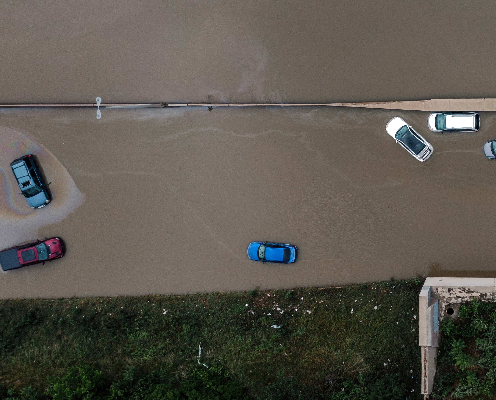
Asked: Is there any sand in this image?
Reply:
No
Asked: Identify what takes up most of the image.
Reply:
water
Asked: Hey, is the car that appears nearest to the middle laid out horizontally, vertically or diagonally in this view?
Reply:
horizontally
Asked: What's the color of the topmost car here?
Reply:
white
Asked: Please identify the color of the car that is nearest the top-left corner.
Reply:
blue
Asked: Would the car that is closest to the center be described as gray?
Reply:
No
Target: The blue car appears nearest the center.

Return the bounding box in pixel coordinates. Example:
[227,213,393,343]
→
[249,241,298,266]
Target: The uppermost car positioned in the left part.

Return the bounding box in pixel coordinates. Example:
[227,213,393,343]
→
[10,155,52,207]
